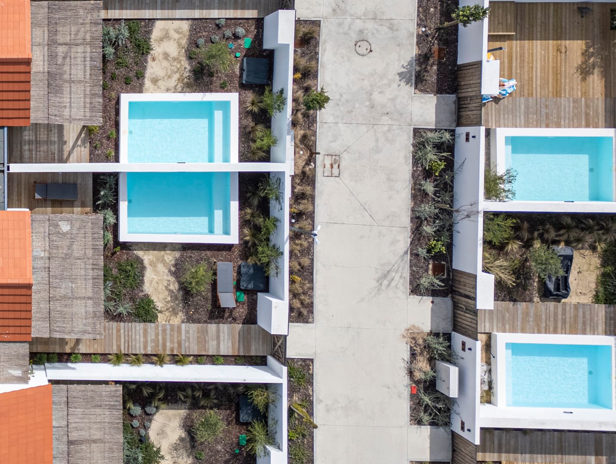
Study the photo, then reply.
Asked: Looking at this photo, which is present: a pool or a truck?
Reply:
pool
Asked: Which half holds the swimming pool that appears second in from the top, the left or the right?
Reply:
right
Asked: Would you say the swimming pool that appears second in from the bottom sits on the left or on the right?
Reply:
left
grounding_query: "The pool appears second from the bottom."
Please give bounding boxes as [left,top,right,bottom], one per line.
[118,171,238,243]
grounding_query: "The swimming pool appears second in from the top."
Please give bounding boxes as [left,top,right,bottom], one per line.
[490,128,616,200]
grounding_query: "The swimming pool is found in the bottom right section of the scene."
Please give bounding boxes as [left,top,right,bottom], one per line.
[490,333,615,411]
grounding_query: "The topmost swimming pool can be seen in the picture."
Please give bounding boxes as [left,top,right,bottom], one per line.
[118,93,238,162]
